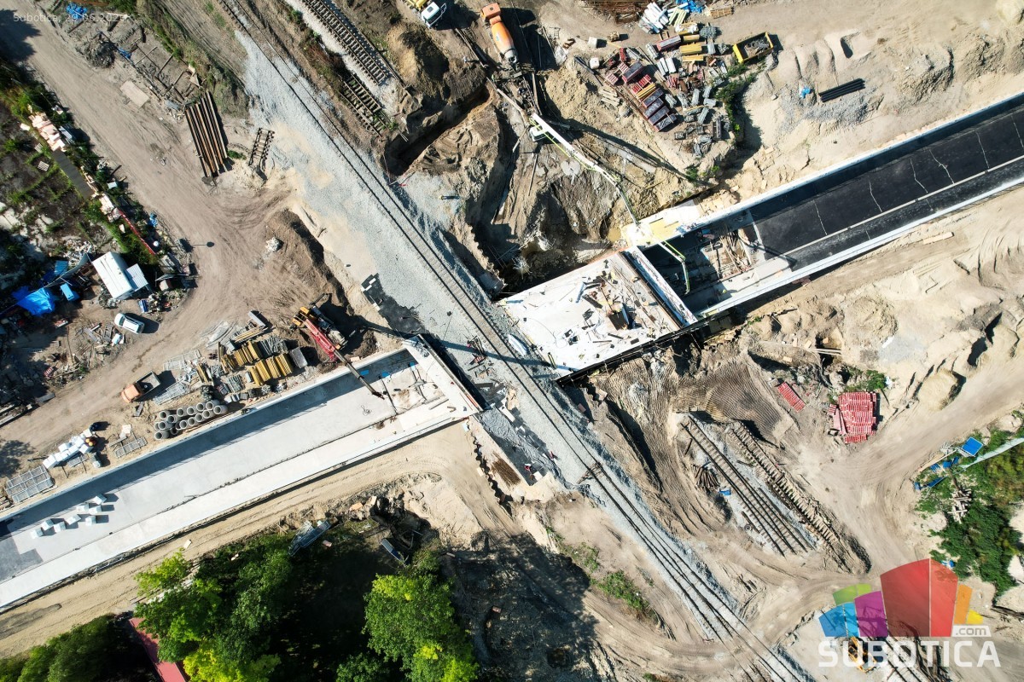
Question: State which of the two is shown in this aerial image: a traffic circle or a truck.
truck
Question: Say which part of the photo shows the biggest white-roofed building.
left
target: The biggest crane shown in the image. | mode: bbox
[283,284,391,404]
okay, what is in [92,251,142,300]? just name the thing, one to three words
building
